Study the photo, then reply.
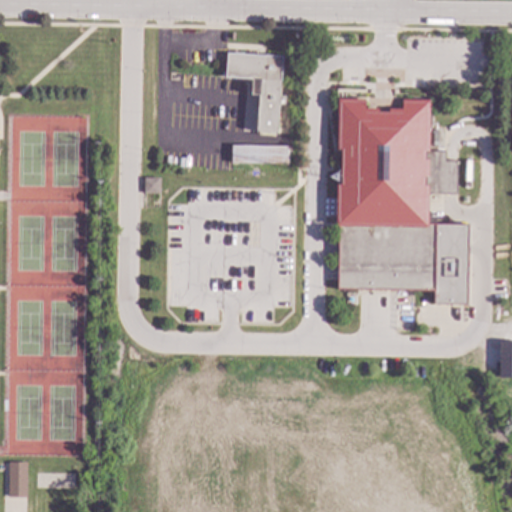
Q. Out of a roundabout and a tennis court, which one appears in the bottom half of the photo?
tennis court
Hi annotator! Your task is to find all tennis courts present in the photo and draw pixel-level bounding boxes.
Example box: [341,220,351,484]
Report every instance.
[48,385,78,441]
[16,300,44,356]
[18,216,44,272]
[14,385,44,441]
[52,216,78,272]
[19,132,46,188]
[50,300,78,356]
[53,132,80,188]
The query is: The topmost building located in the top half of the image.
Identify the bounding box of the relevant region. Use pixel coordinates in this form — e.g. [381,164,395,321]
[227,52,286,134]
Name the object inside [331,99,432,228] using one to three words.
building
